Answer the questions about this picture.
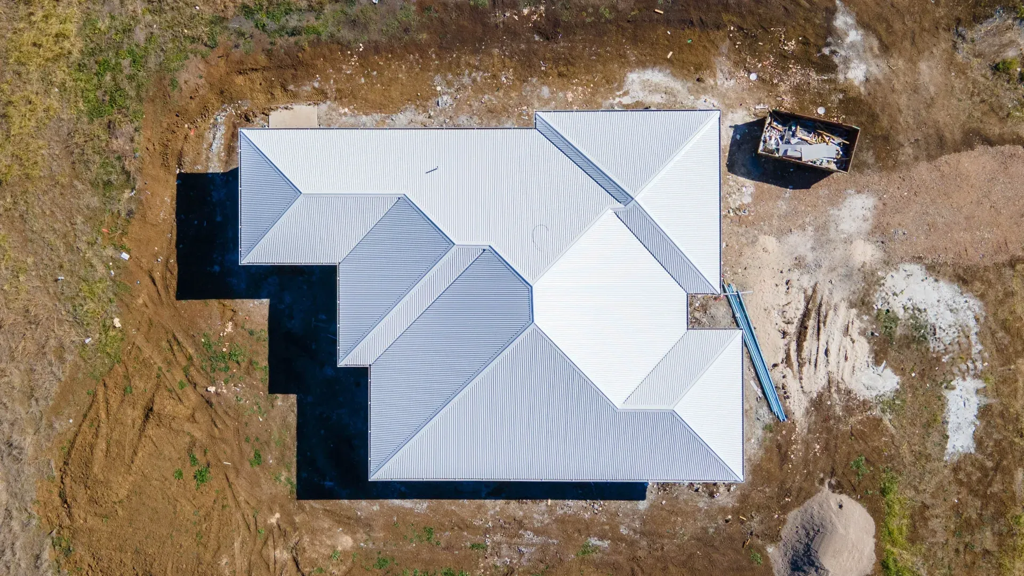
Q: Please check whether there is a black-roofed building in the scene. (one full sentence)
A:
No, there's no black-roofed building here.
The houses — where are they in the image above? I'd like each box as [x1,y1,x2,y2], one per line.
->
[239,110,743,481]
